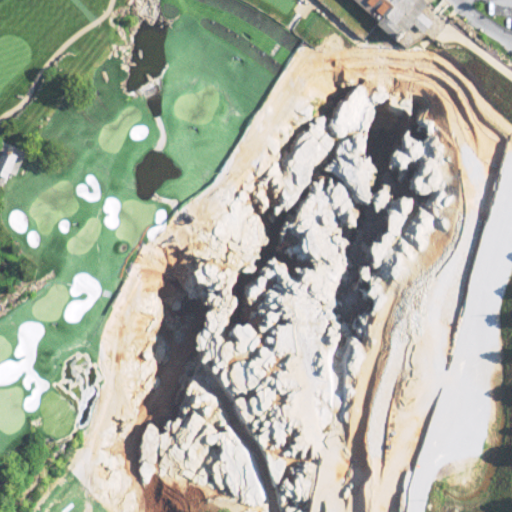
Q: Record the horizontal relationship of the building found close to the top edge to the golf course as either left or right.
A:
to its right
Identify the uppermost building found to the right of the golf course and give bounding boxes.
[356,0,438,50]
